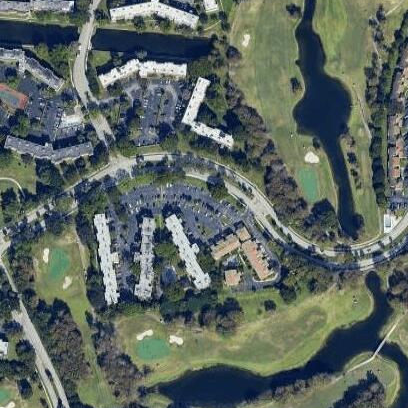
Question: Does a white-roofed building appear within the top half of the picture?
Yes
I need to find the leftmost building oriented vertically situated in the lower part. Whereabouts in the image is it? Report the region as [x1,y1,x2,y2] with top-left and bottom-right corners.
[93,214,119,305]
